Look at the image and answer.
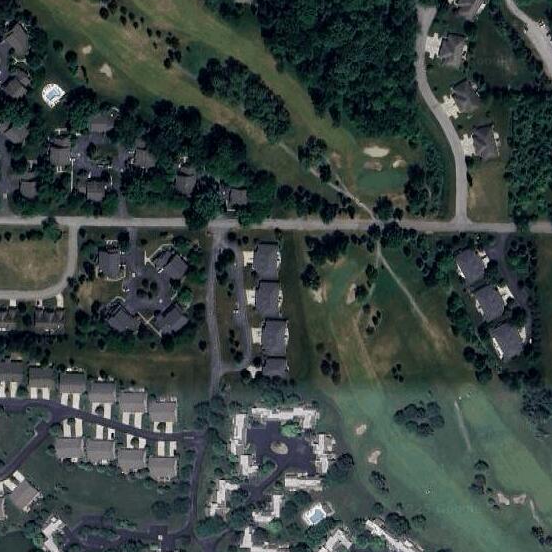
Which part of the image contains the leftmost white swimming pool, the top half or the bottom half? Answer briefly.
top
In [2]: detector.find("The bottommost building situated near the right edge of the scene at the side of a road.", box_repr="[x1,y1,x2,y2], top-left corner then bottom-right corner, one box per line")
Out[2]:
[490,320,527,363]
